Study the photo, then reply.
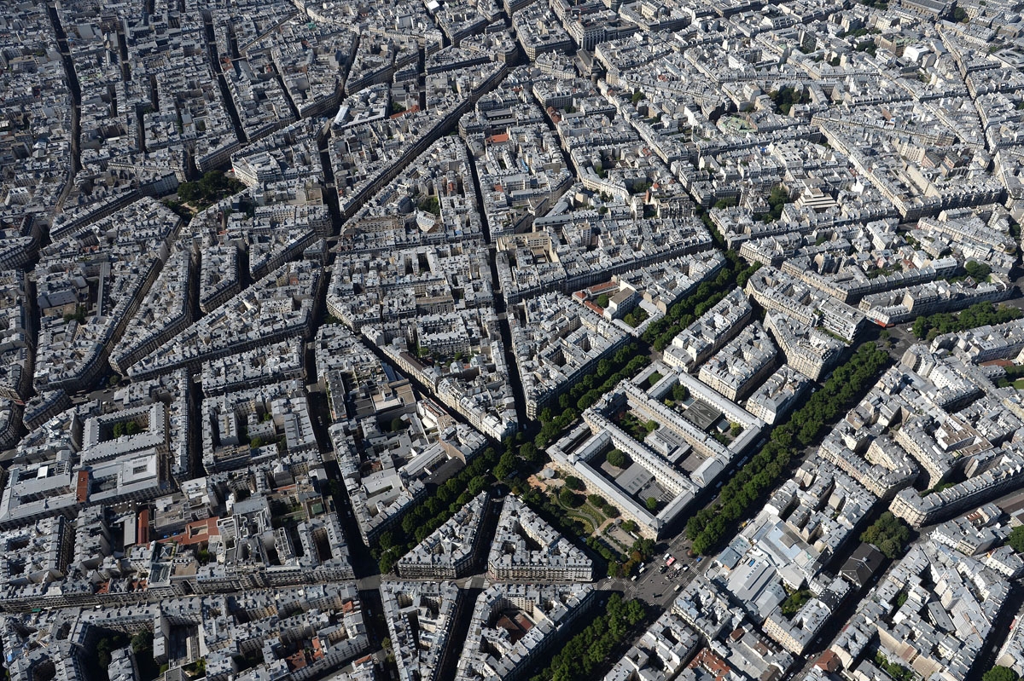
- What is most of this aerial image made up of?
buildings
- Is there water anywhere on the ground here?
No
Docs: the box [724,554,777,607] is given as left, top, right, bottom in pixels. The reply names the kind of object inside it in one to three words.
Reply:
building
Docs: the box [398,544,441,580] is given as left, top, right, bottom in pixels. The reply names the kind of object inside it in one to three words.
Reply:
building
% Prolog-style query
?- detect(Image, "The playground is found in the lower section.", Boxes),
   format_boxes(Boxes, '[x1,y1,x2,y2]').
[525,464,565,496]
